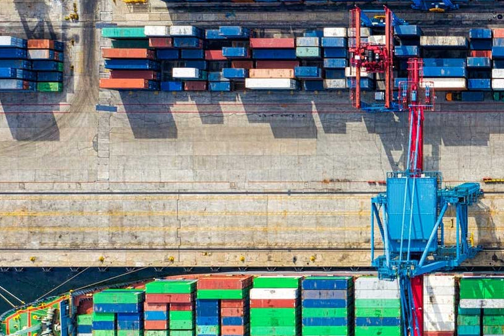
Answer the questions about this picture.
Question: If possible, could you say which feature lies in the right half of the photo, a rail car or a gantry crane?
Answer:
gantry crane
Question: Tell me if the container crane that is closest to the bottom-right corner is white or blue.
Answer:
blue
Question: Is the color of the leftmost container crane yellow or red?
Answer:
red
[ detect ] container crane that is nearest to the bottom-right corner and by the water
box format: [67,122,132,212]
[367,58,492,336]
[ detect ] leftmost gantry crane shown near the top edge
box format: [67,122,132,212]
[349,6,419,113]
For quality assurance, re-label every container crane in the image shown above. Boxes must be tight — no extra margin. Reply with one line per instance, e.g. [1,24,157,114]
[404,0,467,13]
[349,6,419,113]
[367,58,492,336]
